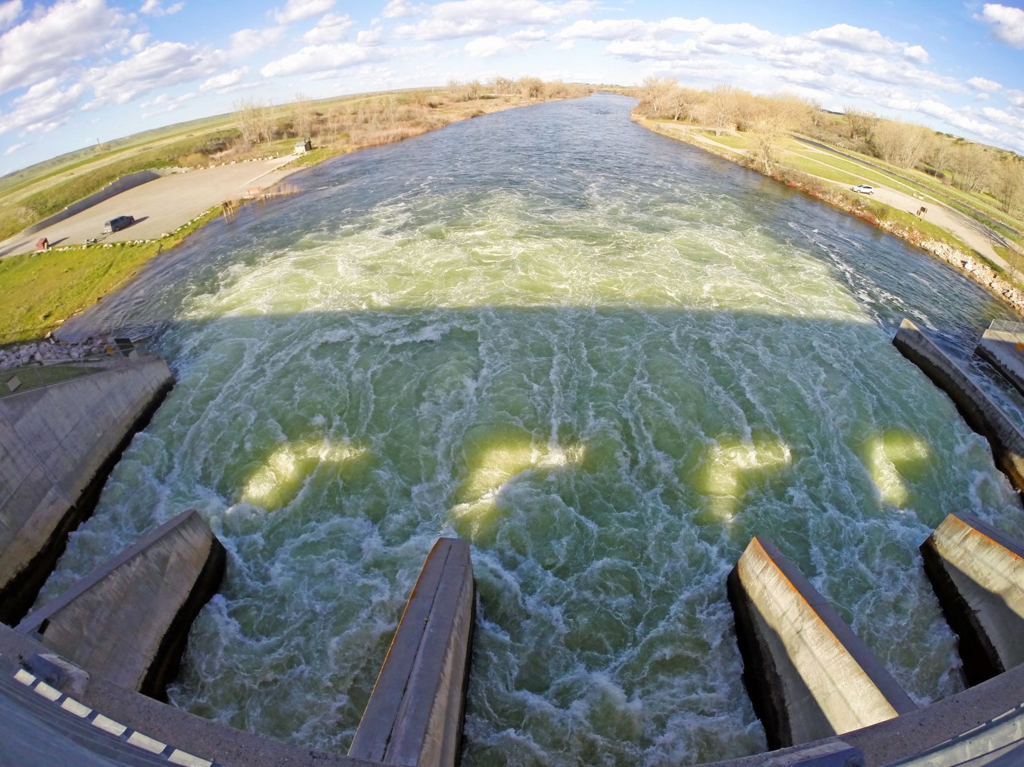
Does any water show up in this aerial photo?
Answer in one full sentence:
Yes, there's water in this view.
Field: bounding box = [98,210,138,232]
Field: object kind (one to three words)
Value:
truck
